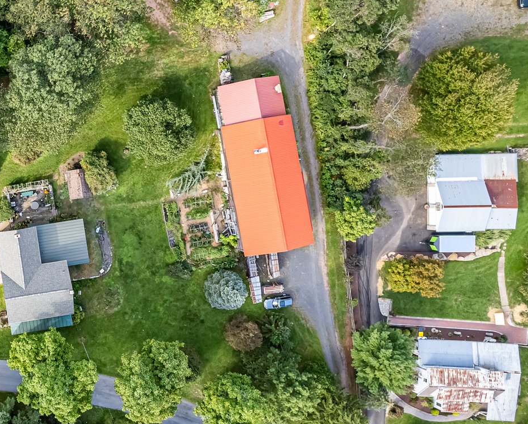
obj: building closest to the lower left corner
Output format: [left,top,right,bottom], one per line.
[0,219,90,334]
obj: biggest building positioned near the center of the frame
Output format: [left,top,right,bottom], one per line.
[217,114,313,256]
